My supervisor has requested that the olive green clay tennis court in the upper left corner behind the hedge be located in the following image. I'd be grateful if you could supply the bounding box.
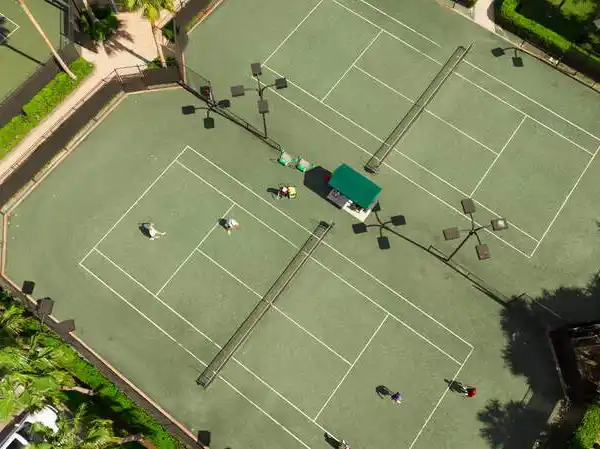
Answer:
[0,0,78,98]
